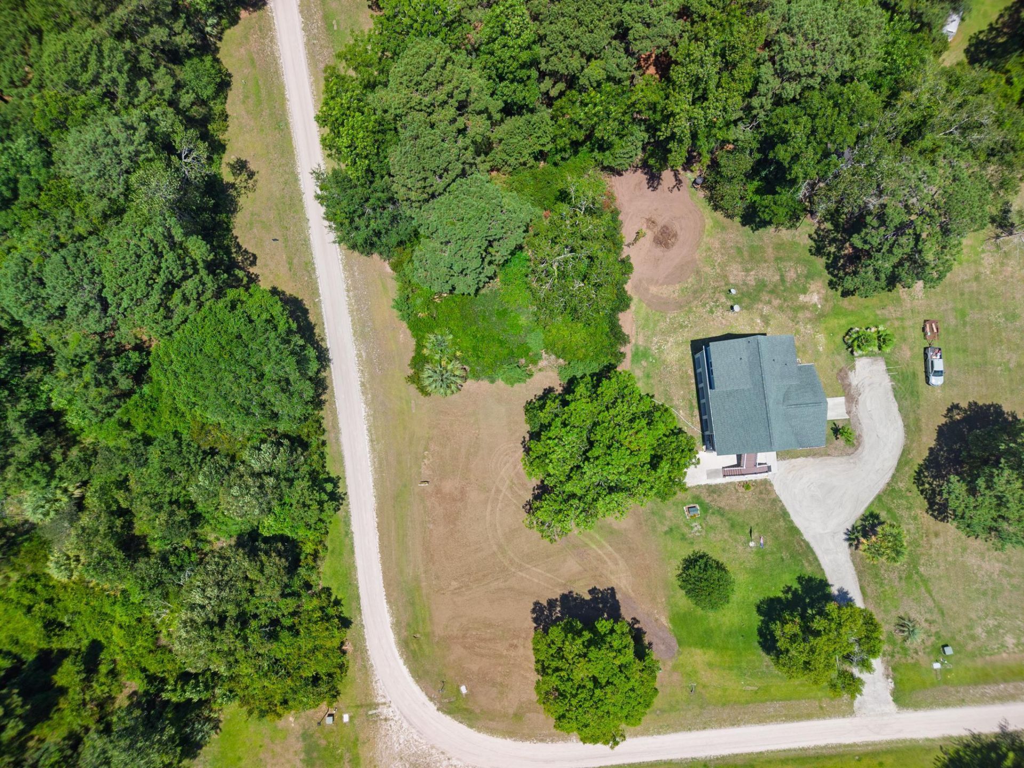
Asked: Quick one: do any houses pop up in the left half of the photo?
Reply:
No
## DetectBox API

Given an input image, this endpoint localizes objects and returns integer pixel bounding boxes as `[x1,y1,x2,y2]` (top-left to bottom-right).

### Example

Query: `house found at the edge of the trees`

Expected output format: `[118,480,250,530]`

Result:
[695,334,828,455]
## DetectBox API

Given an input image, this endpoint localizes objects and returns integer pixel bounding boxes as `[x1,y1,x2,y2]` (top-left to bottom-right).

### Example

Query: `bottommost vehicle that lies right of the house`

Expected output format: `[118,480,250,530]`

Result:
[923,346,944,387]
